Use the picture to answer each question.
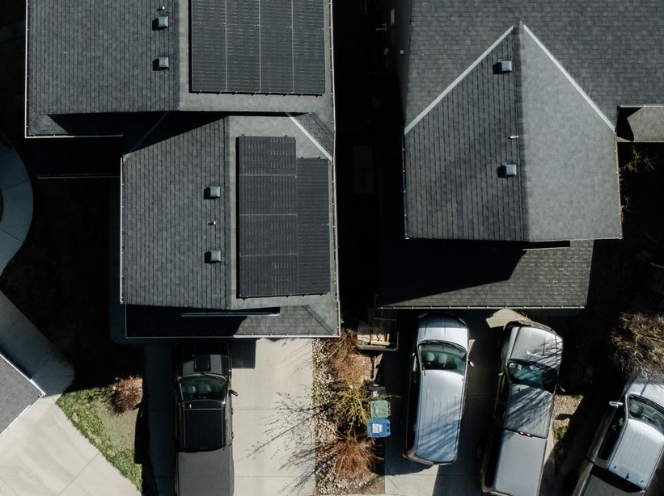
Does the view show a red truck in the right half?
No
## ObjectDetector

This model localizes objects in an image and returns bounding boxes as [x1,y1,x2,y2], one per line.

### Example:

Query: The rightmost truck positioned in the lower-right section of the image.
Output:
[565,357,664,496]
